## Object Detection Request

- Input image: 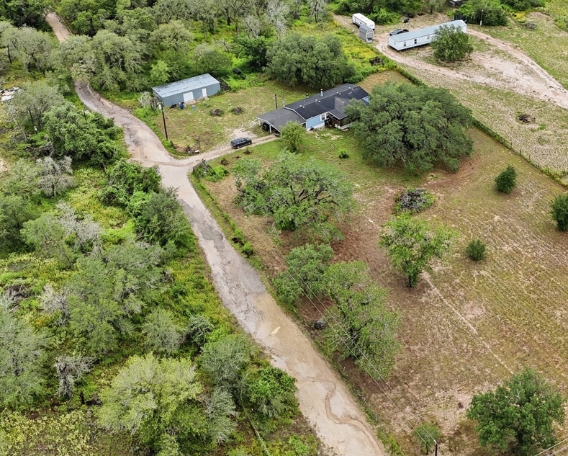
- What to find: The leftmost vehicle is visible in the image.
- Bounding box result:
[228,137,253,149]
